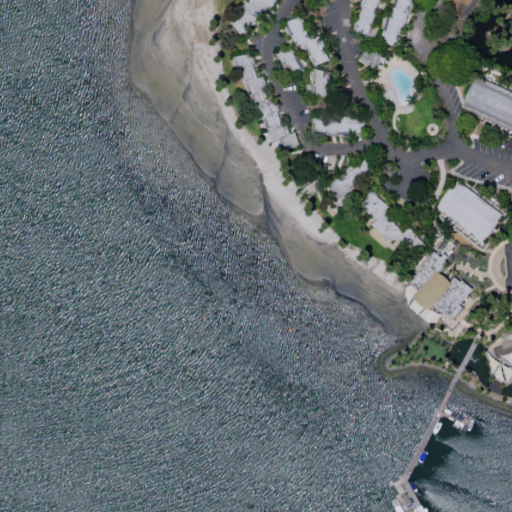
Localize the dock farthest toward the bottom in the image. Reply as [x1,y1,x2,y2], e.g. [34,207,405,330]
[390,480,425,512]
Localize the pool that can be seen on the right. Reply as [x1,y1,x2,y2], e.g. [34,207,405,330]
[374,57,417,114]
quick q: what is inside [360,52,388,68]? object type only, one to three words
building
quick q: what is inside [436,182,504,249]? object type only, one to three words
building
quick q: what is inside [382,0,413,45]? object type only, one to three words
house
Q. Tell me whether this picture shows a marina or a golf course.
marina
